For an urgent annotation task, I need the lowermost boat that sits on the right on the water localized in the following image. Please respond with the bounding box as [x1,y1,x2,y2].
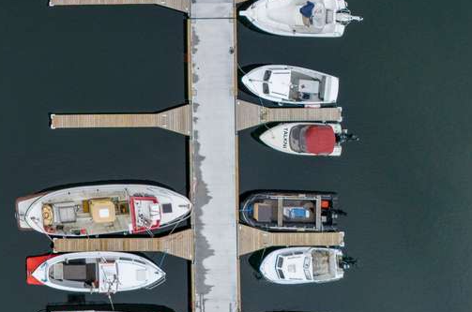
[259,245,358,283]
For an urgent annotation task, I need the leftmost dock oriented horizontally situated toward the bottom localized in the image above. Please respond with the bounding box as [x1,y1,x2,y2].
[52,223,193,266]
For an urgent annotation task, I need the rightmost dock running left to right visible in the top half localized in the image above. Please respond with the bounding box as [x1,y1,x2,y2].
[237,93,342,136]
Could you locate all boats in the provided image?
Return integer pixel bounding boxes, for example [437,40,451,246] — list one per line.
[239,0,364,37]
[259,245,358,283]
[241,65,339,105]
[14,185,195,238]
[259,122,360,156]
[26,252,168,309]
[241,191,342,231]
